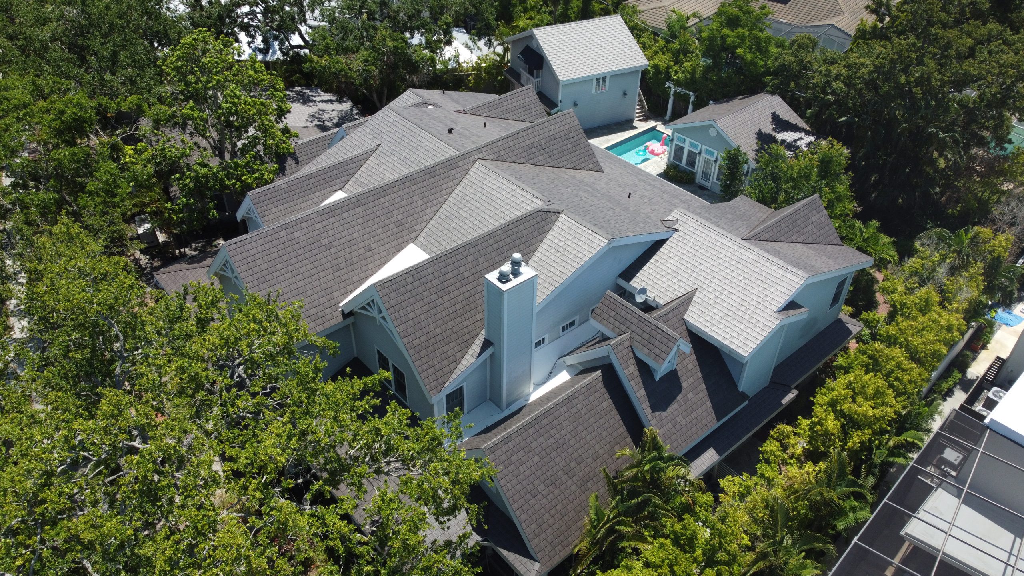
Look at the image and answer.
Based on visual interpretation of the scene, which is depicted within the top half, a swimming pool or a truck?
swimming pool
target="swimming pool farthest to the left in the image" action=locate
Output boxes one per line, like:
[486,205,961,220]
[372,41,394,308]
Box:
[602,121,672,166]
